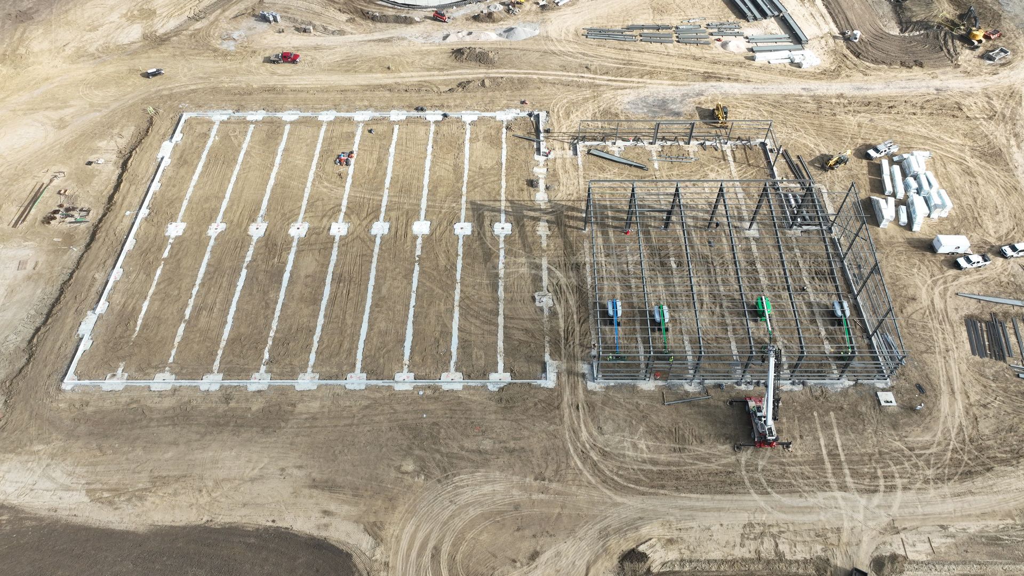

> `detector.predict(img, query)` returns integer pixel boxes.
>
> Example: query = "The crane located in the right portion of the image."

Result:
[726,350,793,454]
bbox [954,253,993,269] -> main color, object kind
white vehicle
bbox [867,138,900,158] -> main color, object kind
white vehicle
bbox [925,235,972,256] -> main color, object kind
white trailer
